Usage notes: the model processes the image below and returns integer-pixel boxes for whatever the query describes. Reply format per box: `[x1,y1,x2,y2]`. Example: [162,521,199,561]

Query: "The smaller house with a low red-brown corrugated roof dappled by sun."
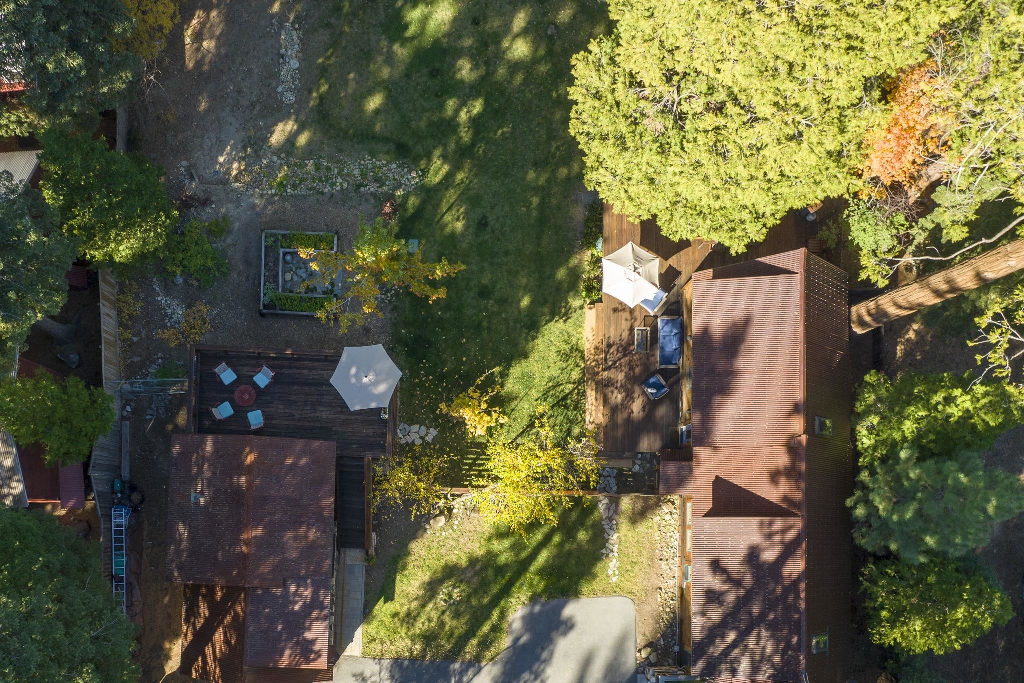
[164,434,338,683]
